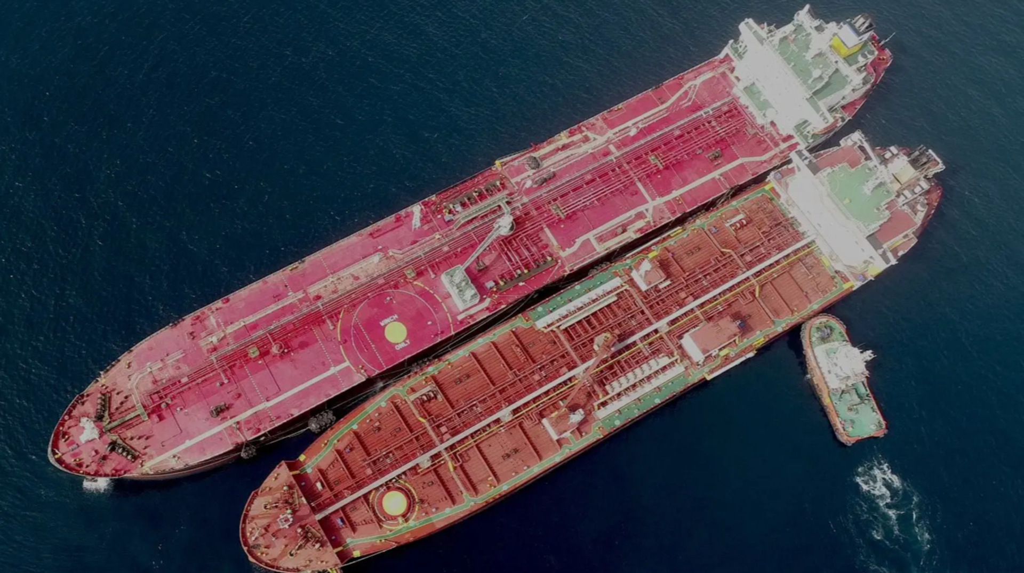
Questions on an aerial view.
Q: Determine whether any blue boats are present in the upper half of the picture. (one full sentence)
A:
No, no blue boat can be made out in the upper half of the picture.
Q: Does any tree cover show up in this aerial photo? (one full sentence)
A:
No, tree cover can't be seen anywhere here.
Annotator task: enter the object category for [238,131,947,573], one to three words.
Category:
ship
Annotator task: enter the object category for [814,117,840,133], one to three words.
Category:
boat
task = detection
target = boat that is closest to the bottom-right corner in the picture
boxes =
[799,314,886,443]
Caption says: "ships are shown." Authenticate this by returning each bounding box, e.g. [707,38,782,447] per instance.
[43,3,894,481]
[238,131,947,573]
